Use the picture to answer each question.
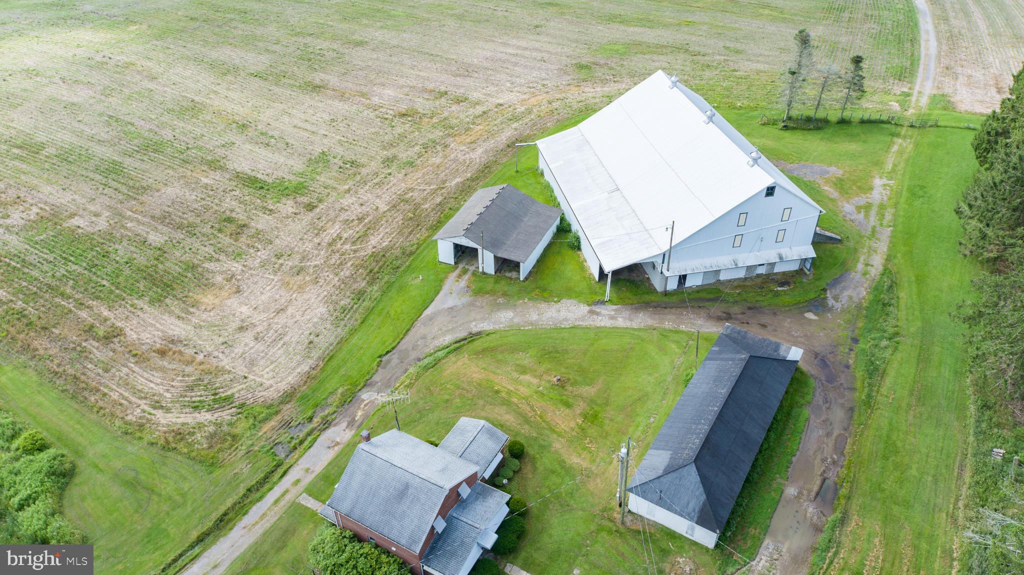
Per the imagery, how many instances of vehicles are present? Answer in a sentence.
I count no vehicles.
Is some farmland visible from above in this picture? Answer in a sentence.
Yes, the picture does contain farmland.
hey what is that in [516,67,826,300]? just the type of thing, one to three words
barn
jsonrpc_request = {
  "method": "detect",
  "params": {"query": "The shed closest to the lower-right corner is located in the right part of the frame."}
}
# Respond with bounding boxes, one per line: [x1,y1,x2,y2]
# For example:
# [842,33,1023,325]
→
[627,325,802,549]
